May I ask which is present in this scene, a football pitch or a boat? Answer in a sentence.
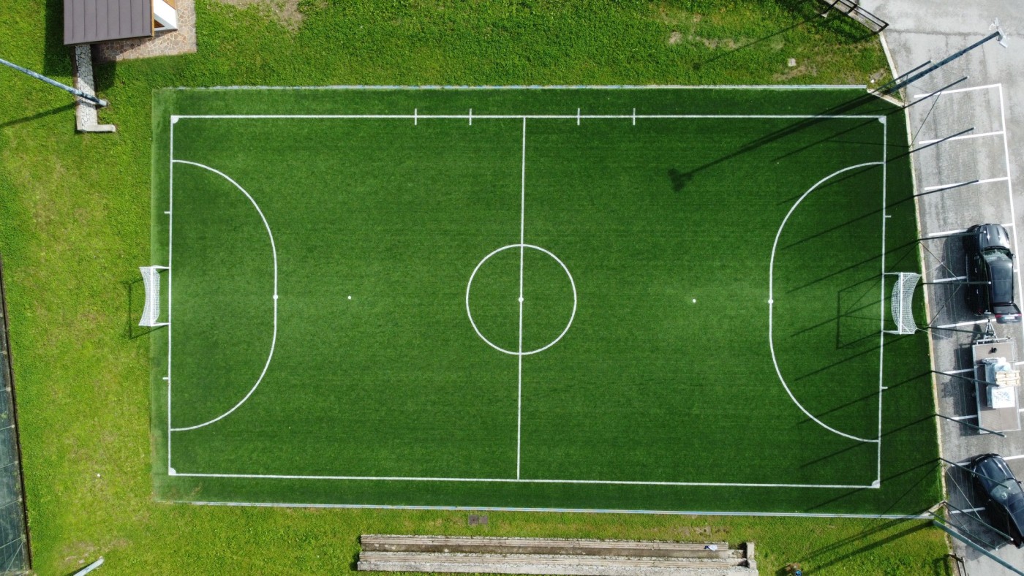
Visible in the photo is a football pitch.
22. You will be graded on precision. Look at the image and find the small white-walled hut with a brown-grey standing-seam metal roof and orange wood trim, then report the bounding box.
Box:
[64,0,176,46]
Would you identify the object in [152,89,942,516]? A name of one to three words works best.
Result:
soccer field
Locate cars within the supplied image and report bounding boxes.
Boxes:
[961,222,1021,324]
[972,454,1024,547]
